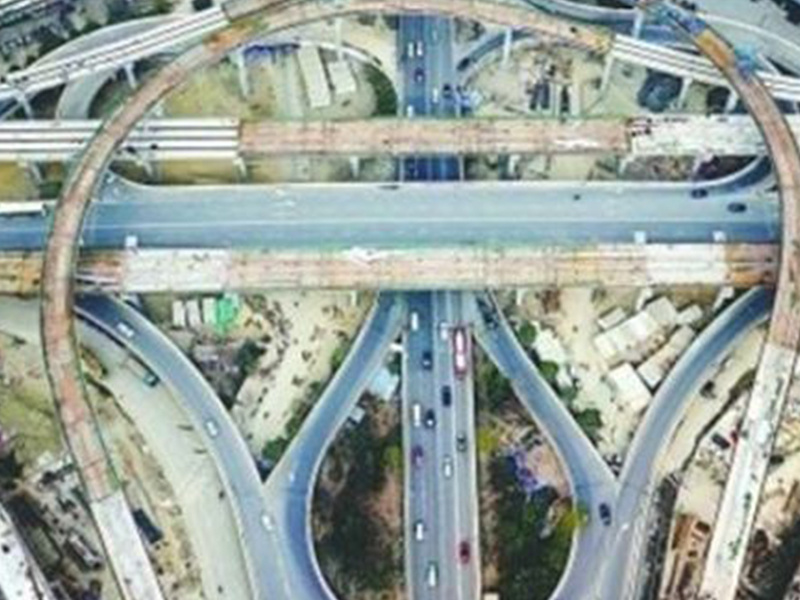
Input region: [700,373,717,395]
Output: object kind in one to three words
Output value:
work vehicle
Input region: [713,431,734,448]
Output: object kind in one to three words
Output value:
vehicle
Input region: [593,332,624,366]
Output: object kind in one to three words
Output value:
shed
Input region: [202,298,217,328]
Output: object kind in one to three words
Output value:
building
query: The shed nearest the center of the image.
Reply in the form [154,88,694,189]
[371,367,398,404]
